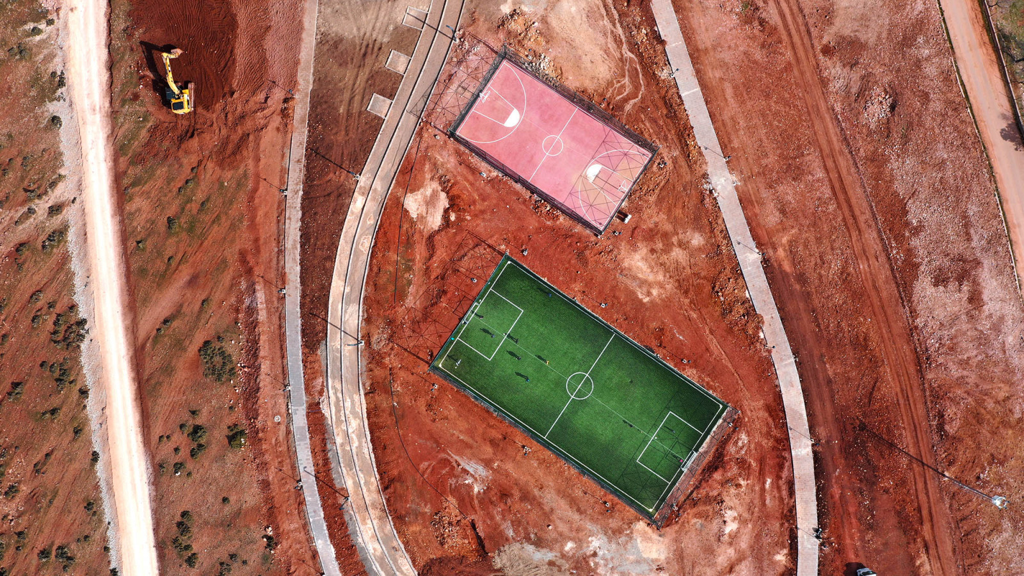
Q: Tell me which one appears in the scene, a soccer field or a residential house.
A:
soccer field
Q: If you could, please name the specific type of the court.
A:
basketball court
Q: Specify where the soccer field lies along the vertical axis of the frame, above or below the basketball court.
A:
below it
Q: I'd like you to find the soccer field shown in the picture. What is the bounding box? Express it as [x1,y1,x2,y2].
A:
[430,253,731,519]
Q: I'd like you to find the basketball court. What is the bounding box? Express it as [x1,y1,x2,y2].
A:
[452,53,657,235]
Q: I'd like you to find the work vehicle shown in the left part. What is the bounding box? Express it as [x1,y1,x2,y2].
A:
[163,51,197,115]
